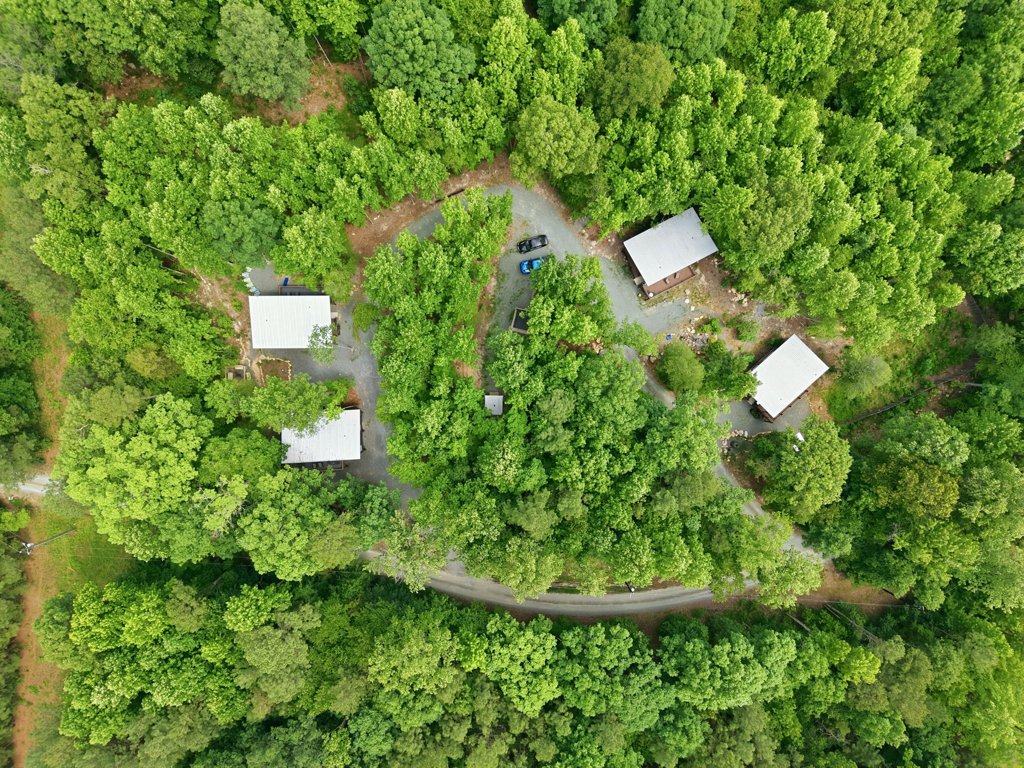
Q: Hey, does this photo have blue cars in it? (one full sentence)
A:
Yes, the frame does contain a blue car.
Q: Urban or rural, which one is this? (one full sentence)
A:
The area is rural.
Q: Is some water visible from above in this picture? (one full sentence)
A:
No, there's no water in this view.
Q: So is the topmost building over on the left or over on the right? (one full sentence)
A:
The topmost building is on the right side of the image.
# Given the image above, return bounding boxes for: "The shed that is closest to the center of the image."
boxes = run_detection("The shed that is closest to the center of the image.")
[484,392,503,415]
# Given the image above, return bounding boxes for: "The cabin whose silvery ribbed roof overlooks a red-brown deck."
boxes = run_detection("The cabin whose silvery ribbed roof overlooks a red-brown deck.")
[624,210,718,300]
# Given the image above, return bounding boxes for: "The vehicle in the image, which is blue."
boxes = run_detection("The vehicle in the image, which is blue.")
[519,255,549,273]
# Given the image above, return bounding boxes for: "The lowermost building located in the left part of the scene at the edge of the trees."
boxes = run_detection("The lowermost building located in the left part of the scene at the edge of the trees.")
[281,410,367,470]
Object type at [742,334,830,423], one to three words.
building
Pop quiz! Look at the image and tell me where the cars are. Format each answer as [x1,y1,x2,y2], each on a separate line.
[519,255,549,273]
[516,234,550,255]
